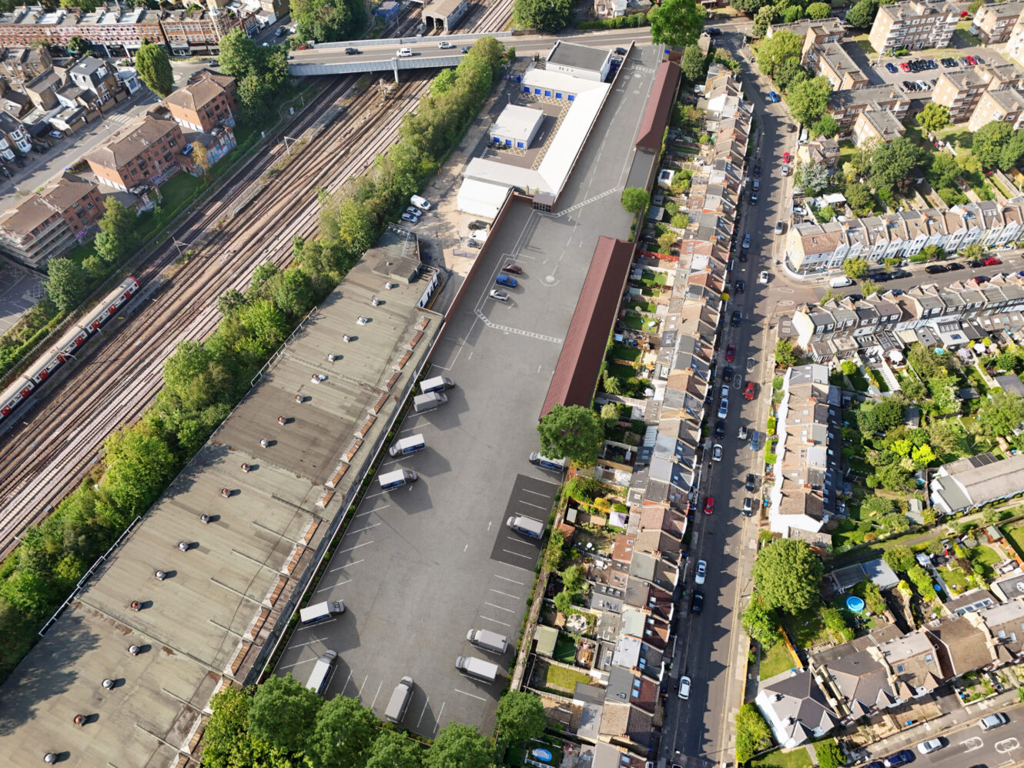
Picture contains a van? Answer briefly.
Yes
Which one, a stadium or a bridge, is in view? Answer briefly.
bridge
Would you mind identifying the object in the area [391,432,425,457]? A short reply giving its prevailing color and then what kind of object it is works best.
white vehicle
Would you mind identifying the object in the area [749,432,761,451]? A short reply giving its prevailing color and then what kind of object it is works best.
blue vehicle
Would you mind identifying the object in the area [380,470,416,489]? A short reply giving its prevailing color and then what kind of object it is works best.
white vehicle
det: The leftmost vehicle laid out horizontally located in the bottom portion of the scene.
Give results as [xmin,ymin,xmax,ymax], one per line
[302,601,343,623]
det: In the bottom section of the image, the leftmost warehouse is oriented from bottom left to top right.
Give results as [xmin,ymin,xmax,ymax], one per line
[0,221,446,768]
